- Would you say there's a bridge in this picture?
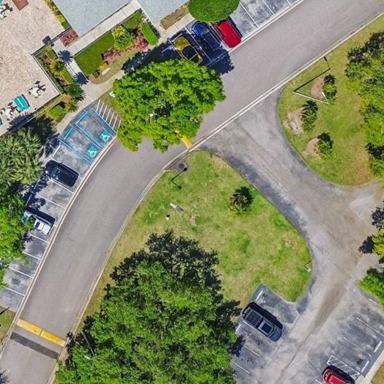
No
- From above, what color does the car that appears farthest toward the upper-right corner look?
red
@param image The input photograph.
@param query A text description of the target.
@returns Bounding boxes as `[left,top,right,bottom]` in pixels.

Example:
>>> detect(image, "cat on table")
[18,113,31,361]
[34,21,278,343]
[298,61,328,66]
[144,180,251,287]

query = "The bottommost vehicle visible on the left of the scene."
[23,210,58,236]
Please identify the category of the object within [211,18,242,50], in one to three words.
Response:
car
